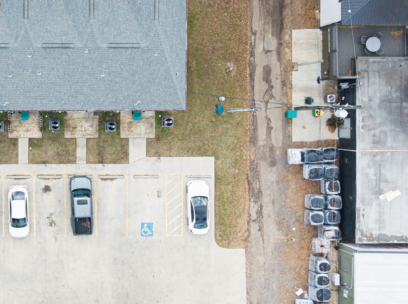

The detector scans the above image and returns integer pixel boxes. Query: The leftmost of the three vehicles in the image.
[7,186,30,238]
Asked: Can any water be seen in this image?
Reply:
No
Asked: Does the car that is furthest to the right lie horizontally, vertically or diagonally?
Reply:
vertically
